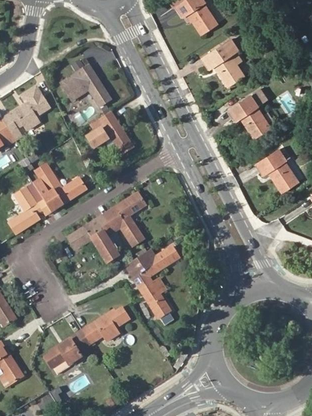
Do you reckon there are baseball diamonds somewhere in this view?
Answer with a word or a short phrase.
No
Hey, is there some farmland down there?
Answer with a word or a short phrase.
No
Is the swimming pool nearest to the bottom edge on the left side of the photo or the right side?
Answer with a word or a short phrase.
left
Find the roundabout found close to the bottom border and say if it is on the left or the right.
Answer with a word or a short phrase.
right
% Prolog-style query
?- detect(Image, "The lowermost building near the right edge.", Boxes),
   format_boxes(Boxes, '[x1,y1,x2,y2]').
[254,150,299,194]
